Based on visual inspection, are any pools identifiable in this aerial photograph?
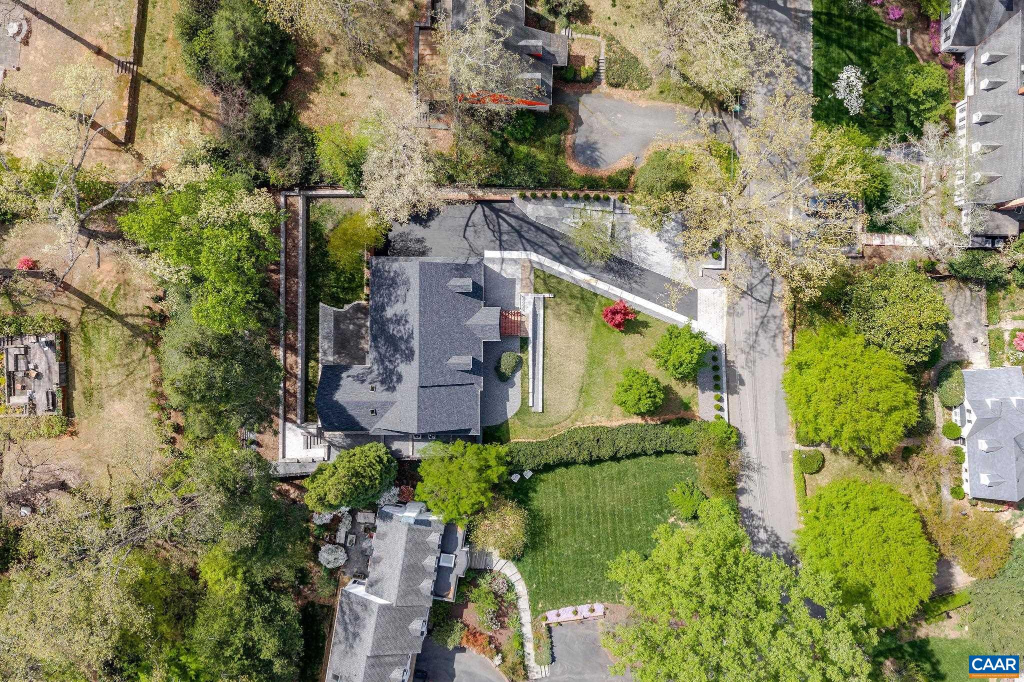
No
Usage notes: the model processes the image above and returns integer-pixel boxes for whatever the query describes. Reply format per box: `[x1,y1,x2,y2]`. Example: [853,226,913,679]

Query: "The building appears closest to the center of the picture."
[315,257,500,437]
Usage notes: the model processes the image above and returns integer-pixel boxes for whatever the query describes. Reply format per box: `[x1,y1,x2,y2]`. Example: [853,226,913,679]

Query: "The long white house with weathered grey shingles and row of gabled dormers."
[324,499,472,682]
